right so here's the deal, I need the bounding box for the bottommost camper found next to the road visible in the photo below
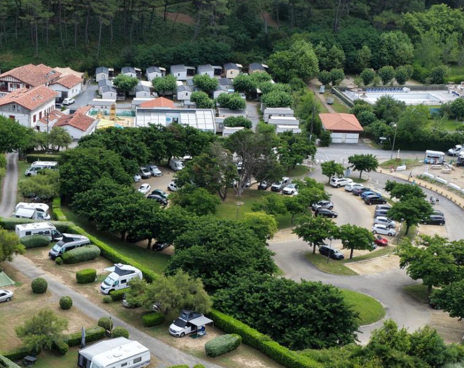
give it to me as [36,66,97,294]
[79,331,154,368]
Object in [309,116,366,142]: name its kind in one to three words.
building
